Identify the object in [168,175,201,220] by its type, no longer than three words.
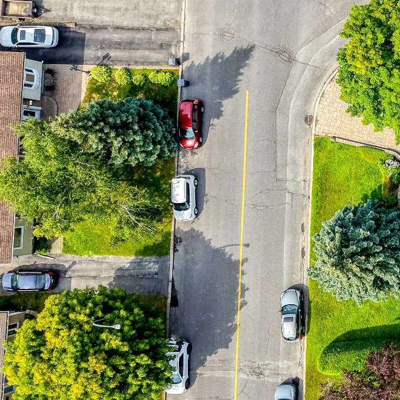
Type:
car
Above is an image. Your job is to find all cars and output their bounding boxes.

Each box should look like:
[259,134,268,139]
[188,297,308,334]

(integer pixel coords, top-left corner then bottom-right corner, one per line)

[0,22,60,49]
[276,289,307,341]
[274,383,301,400]
[160,340,194,394]
[168,175,201,220]
[0,267,57,295]
[176,100,205,149]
